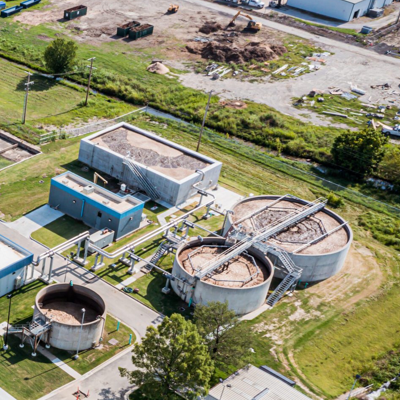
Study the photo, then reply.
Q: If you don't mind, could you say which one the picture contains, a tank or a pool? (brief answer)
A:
tank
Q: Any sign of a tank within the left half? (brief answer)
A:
Yes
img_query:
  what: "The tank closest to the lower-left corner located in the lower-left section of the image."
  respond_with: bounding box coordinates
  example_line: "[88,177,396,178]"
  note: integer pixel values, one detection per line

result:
[8,276,113,351]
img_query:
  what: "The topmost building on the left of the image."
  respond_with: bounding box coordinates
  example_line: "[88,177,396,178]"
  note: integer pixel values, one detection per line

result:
[49,170,150,243]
